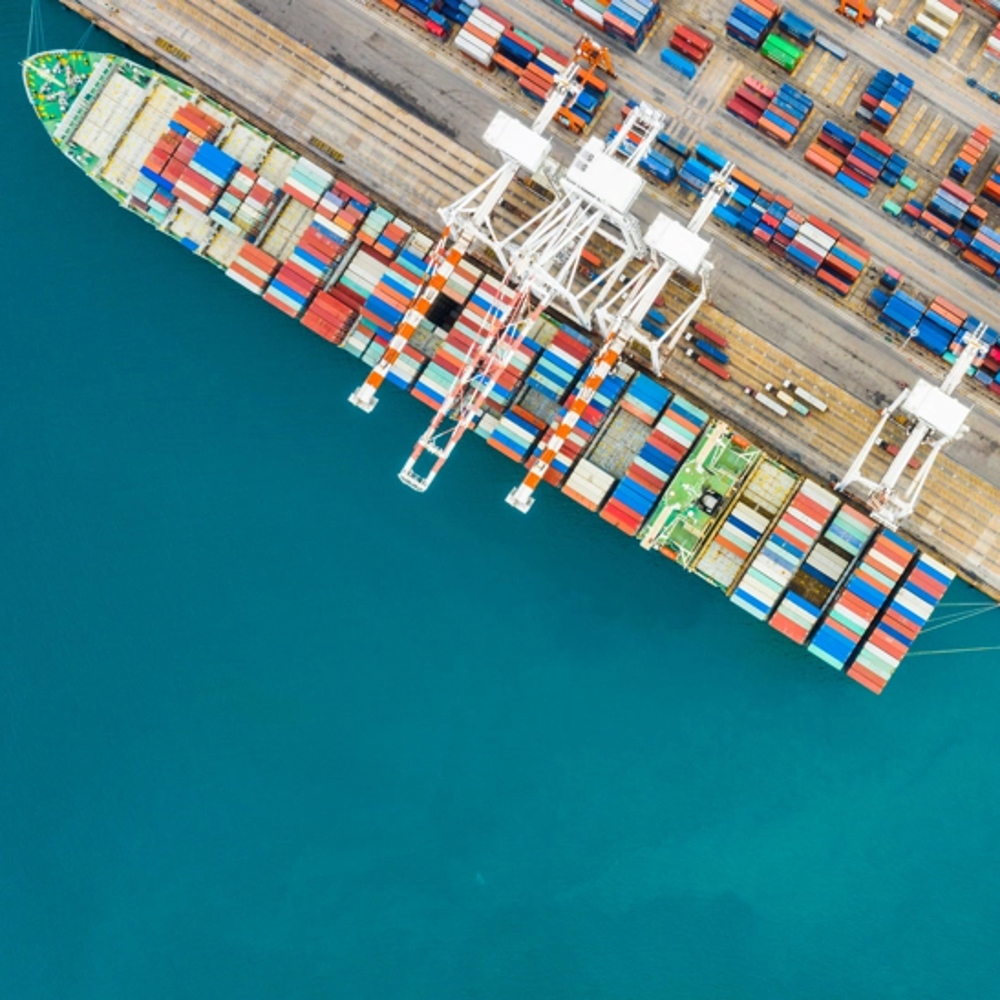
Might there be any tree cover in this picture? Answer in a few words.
No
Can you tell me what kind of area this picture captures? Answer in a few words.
port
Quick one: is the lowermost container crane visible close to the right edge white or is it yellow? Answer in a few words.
white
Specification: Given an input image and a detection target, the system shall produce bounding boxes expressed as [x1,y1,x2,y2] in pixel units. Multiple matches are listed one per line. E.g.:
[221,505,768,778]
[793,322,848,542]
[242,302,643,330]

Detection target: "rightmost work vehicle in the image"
[964,71,1000,104]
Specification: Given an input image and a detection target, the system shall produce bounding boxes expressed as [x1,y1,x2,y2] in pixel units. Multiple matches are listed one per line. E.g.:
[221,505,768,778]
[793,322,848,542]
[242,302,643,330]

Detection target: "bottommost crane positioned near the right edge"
[831,324,992,533]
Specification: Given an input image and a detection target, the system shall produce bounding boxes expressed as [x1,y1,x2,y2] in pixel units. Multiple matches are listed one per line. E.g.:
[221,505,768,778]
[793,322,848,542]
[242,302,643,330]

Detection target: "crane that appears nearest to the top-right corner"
[835,0,872,32]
